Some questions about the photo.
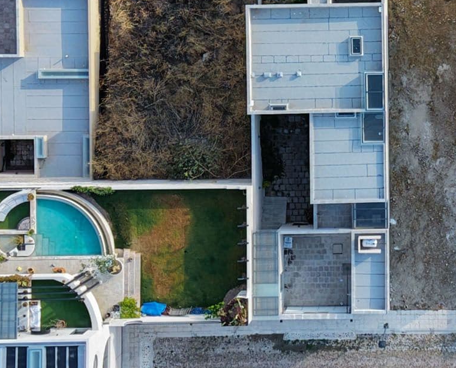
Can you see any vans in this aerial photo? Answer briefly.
No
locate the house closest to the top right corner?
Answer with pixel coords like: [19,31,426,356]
[246,0,392,311]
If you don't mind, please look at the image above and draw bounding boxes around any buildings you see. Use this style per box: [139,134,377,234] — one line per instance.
[246,0,392,311]
[0,284,113,368]
[0,0,103,182]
